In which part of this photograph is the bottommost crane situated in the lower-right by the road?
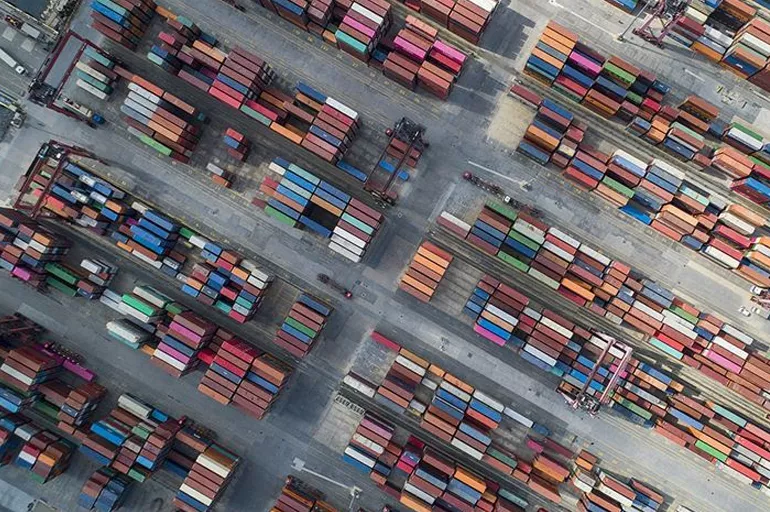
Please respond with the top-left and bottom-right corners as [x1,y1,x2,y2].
[554,328,642,423]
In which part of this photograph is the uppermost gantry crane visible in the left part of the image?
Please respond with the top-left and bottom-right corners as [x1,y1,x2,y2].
[29,26,126,126]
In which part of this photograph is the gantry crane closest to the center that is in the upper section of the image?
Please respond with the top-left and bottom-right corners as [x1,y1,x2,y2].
[357,113,427,208]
